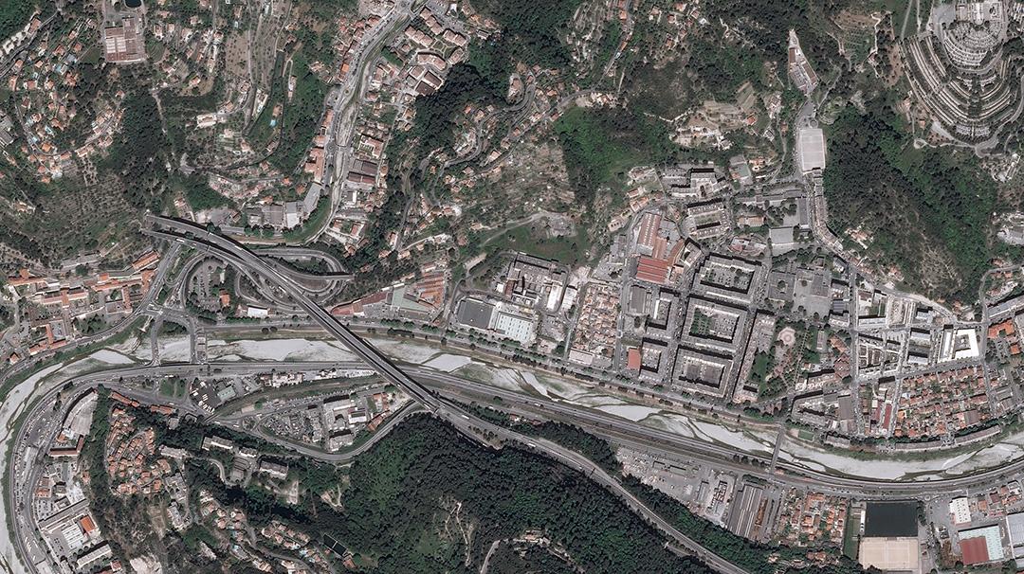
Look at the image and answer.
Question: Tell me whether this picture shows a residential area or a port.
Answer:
residential area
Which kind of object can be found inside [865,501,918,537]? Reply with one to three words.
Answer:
soccer field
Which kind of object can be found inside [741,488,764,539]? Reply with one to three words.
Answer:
shed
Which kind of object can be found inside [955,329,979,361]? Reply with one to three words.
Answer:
building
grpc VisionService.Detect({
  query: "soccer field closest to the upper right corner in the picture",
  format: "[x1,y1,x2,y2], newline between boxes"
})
[800,129,825,170]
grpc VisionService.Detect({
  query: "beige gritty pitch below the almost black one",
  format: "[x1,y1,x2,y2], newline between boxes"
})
[859,539,918,568]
